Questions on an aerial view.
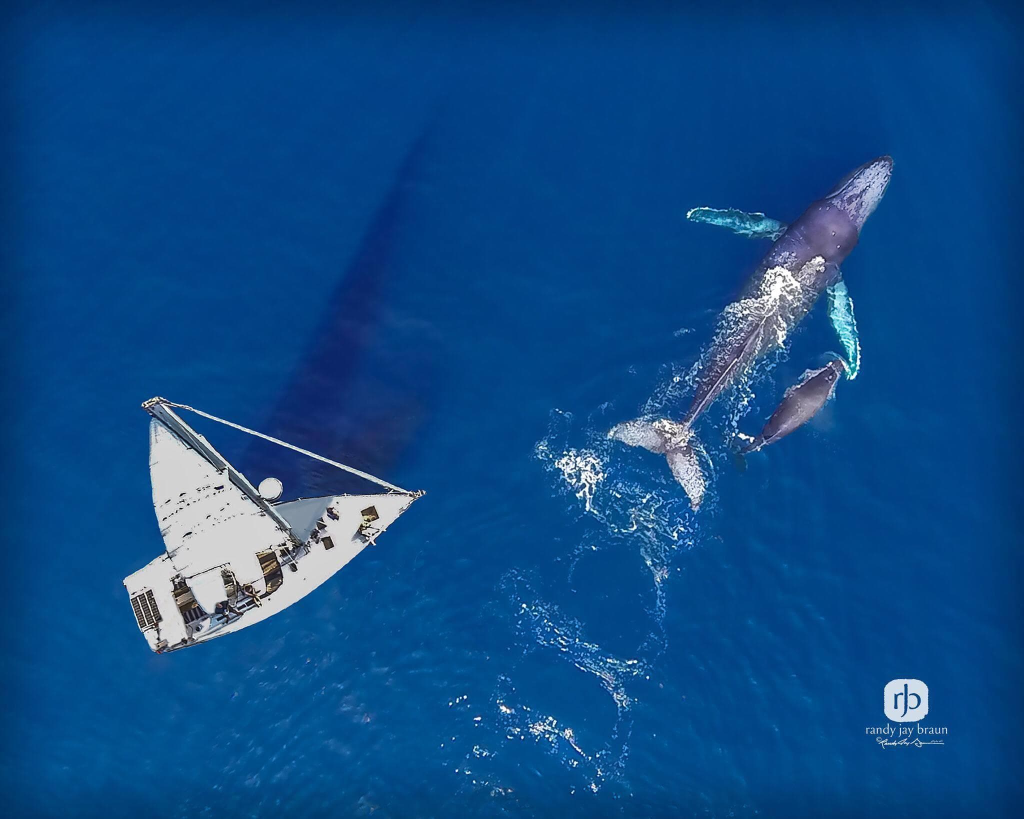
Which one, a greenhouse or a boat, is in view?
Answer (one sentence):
Of the two, only a boat appears.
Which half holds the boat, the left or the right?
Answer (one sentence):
It is on the left.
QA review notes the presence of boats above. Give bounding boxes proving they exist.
[126,395,432,657]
